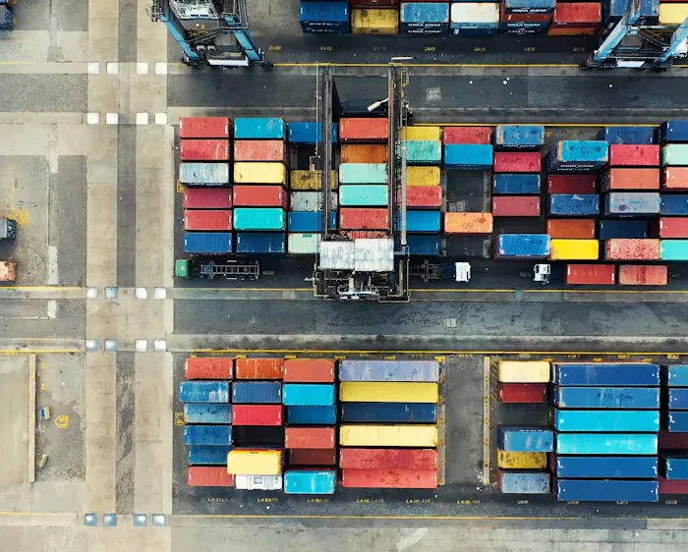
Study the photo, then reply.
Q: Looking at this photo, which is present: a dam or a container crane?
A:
container crane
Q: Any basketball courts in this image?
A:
No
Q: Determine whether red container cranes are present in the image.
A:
No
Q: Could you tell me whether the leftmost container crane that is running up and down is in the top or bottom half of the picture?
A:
top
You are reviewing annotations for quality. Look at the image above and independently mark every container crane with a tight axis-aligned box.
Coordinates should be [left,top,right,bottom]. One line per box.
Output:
[301,58,424,311]
[152,0,283,71]
[579,0,688,74]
